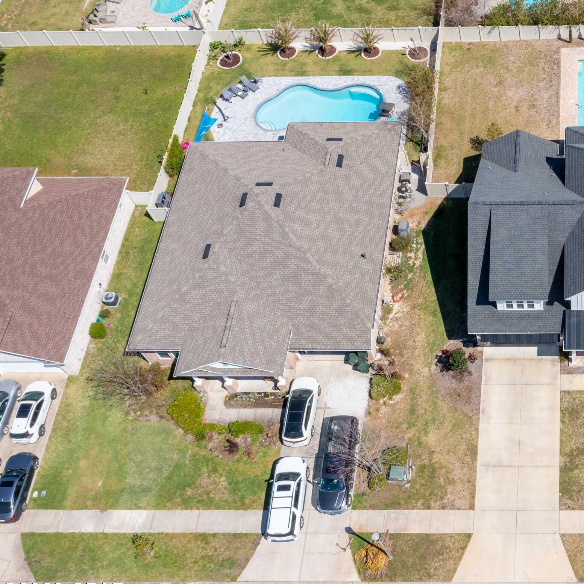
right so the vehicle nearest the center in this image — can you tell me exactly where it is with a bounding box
[278,374,320,445]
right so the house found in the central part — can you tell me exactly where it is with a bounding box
[131,120,404,391]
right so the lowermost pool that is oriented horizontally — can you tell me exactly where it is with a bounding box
[252,82,388,133]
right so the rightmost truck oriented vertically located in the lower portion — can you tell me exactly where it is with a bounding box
[312,422,356,513]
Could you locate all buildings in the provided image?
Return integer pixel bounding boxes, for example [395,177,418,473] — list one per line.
[131,120,404,391]
[467,125,584,366]
[0,166,130,376]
